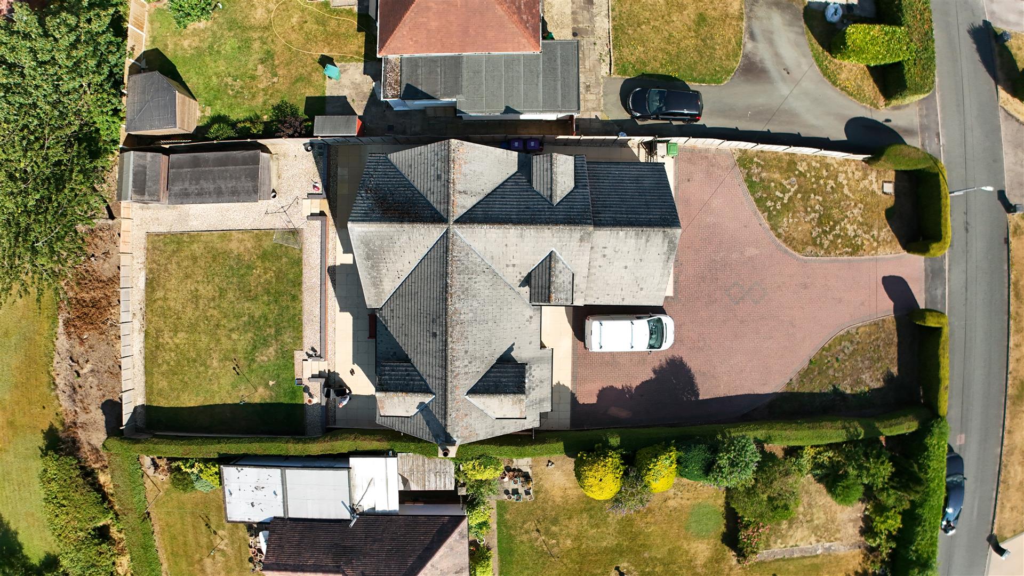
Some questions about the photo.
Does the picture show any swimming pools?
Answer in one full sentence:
No, there appears to be no swimming pool in this shot.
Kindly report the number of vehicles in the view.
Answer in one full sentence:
The number of vehicles here is 3.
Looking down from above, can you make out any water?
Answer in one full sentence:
No, no water is visible.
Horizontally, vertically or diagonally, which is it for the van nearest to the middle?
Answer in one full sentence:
In this picture, the van nearest to the middle is oriented horizontally.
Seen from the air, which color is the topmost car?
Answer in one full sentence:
In this view, the topmost car is black.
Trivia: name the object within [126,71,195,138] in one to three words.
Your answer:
shed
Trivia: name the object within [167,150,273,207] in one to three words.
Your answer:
shed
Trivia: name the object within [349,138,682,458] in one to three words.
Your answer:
house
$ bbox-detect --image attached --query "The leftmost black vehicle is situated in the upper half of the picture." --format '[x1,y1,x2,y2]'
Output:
[625,79,704,122]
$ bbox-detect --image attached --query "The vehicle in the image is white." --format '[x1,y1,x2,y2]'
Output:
[584,312,675,357]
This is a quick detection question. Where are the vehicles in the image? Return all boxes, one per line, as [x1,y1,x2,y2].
[625,79,704,122]
[934,452,977,534]
[584,312,675,357]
